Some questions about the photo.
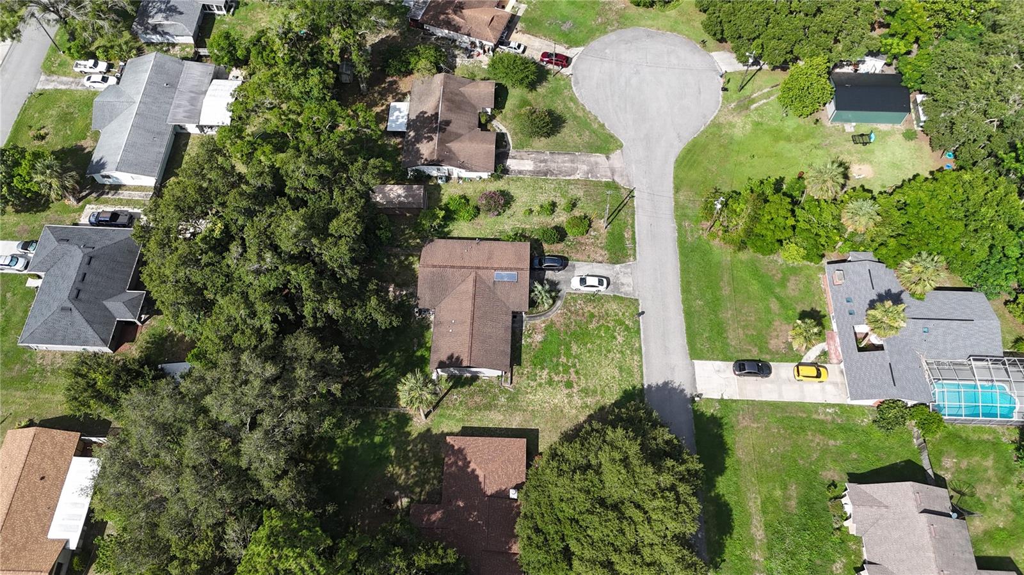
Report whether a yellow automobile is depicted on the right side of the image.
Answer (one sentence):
Yes, a yellow automobile shows up on the right side of the image.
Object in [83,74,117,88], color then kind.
white car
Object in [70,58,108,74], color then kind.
white vehicle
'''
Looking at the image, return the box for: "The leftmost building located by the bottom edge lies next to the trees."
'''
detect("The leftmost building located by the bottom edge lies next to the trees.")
[0,427,106,575]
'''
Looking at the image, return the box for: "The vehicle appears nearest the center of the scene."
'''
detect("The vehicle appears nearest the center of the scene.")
[532,254,568,271]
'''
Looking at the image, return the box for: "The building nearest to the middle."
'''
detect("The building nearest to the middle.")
[417,237,530,377]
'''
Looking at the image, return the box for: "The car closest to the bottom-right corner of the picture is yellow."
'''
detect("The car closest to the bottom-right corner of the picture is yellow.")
[792,363,829,381]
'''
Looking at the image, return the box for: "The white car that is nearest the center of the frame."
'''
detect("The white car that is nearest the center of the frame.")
[571,274,608,291]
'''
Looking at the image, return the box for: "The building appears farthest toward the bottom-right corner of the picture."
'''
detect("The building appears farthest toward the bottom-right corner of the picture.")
[830,482,983,575]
